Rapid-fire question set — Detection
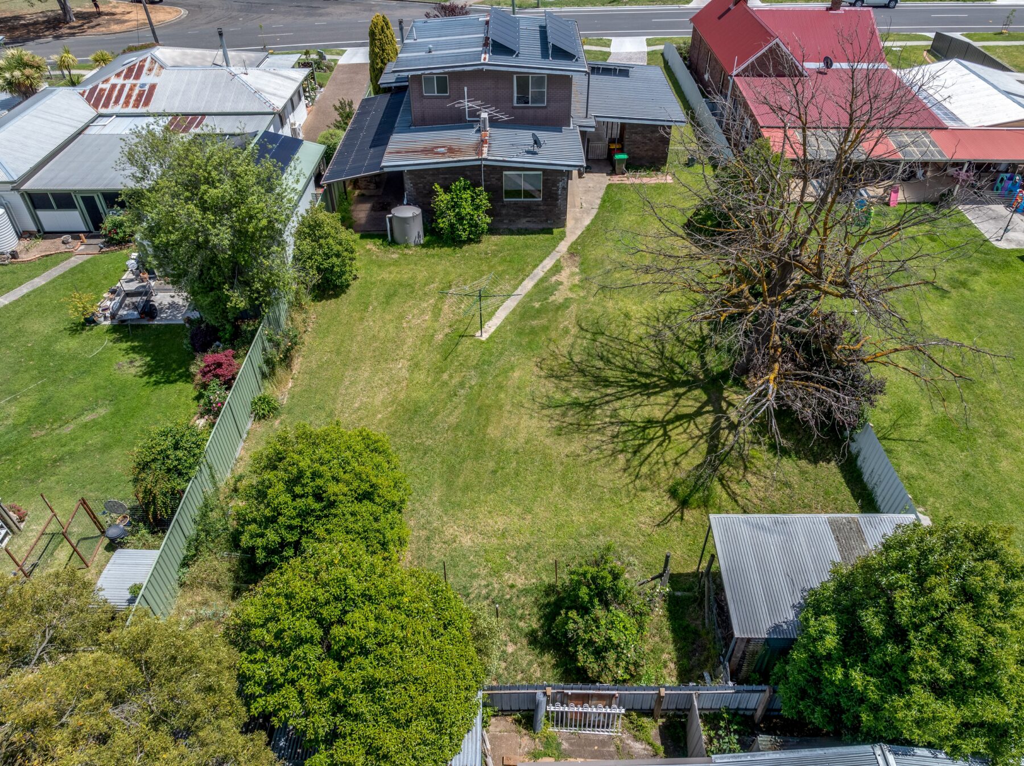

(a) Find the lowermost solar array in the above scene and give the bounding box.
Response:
[229,131,308,202]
